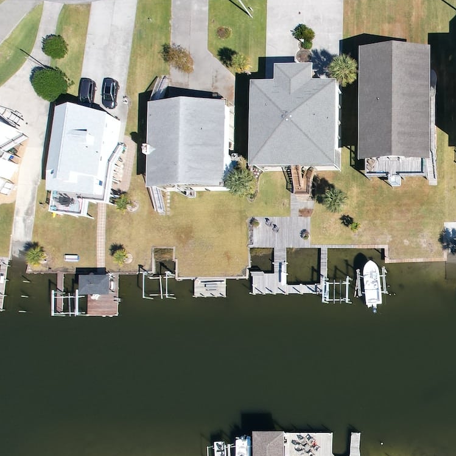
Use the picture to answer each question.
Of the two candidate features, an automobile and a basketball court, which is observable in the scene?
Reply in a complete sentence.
The image shows an automobile.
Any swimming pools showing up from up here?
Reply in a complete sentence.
No, no swimming pool can be seen from above.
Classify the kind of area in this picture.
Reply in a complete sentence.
It's a residential area.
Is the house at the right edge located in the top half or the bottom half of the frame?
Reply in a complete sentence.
The house at the right edge sits in the top half of the picture.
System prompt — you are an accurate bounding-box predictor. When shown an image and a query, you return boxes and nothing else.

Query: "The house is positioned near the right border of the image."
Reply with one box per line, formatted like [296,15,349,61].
[358,40,437,187]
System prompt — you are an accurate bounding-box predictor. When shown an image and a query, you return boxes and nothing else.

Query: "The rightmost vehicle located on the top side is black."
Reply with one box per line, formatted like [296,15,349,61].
[101,77,120,110]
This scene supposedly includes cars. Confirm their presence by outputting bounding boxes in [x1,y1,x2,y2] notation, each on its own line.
[78,73,97,107]
[101,77,120,110]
